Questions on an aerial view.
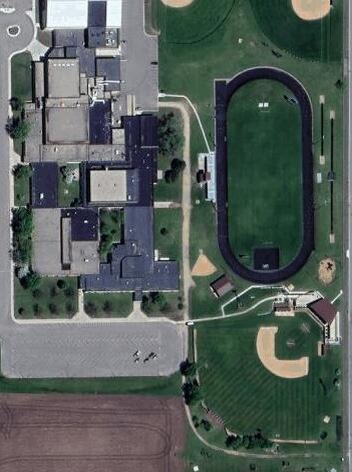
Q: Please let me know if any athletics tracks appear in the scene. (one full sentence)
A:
Yes, the frame does contain an athletics track.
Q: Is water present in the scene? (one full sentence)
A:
No, water can't be seen anywhere here.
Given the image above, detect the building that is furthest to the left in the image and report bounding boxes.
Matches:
[24,0,179,302]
